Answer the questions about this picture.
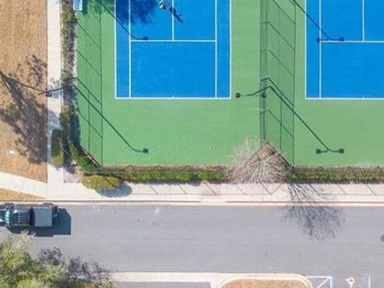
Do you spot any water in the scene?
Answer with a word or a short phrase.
No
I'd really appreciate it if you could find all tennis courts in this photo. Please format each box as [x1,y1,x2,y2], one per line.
[304,0,384,99]
[113,0,231,98]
